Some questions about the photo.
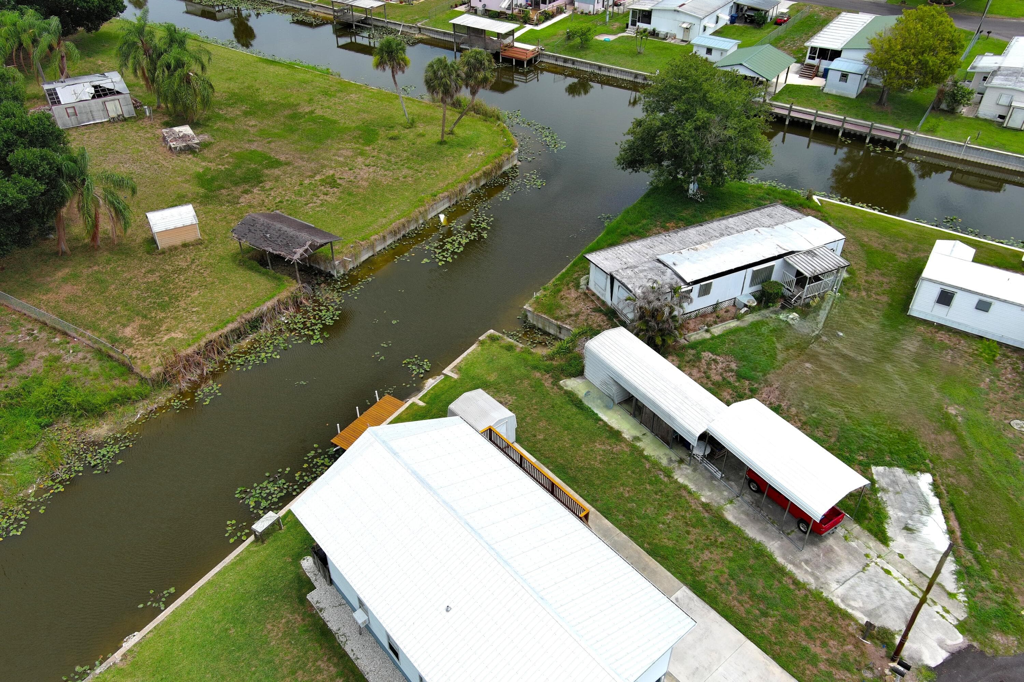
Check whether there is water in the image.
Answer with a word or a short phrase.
Yes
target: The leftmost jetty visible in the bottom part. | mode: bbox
[330,390,405,460]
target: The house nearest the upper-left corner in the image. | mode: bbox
[45,74,136,126]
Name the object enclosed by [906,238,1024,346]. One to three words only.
house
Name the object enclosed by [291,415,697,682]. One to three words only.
house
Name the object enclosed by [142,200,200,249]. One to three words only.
shed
